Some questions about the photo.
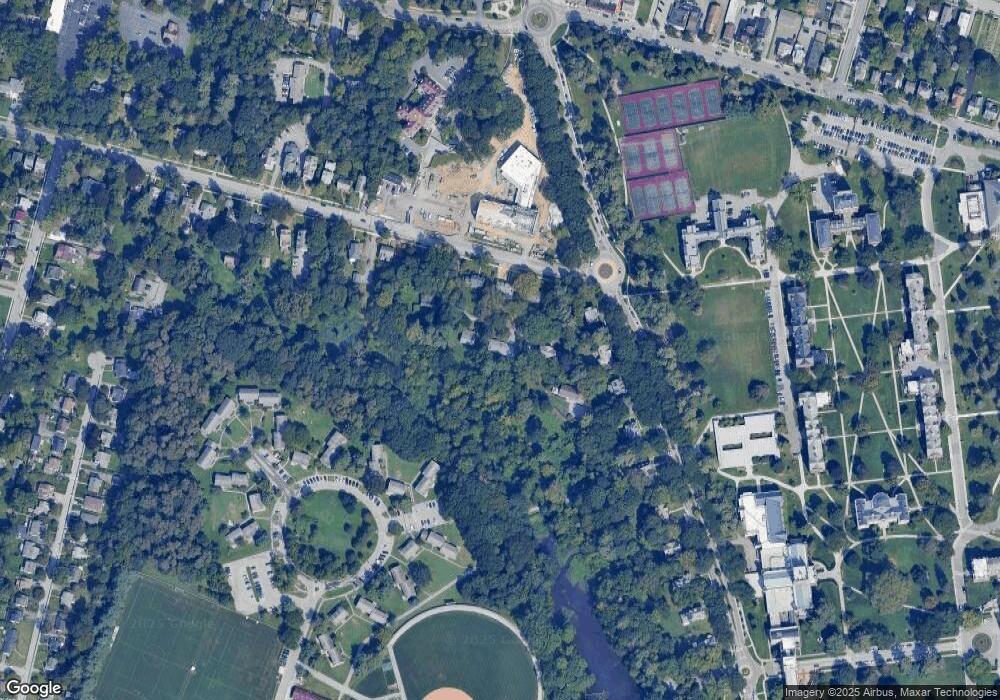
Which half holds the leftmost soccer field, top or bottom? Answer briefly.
bottom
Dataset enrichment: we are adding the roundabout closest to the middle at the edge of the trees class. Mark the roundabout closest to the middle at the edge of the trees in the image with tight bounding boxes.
[587,253,621,287]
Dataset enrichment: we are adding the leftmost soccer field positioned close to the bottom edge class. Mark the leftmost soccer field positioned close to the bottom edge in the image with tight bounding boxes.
[90,573,283,700]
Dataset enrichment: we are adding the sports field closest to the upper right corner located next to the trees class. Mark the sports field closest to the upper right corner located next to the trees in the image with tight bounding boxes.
[678,113,790,197]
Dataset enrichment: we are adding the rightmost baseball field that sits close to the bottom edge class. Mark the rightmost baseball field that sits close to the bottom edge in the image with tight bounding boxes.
[387,606,542,700]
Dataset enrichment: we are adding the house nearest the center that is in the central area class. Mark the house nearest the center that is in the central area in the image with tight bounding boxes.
[487,337,511,355]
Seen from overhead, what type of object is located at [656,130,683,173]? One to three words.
tennis court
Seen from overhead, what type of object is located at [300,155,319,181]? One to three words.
house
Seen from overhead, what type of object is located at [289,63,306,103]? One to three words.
building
